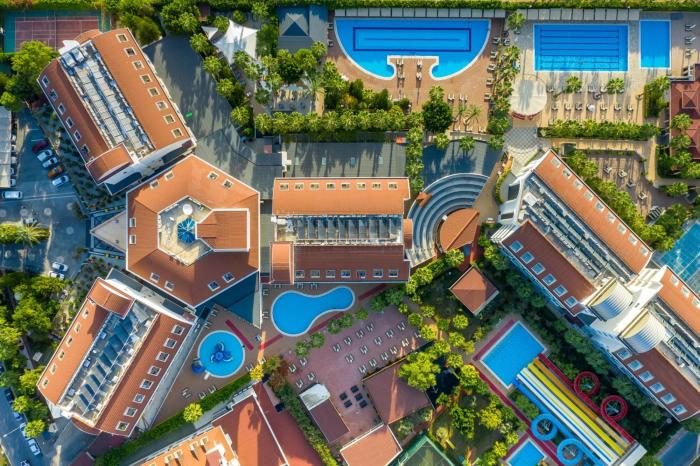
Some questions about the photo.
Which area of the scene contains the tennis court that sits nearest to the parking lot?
top left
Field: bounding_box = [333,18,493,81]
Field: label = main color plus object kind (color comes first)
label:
blue swimming pool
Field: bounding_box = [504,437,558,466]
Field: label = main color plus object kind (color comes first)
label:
blue swimming pool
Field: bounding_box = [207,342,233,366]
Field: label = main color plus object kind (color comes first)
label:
blue fountain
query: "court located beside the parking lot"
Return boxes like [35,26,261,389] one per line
[3,9,109,60]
